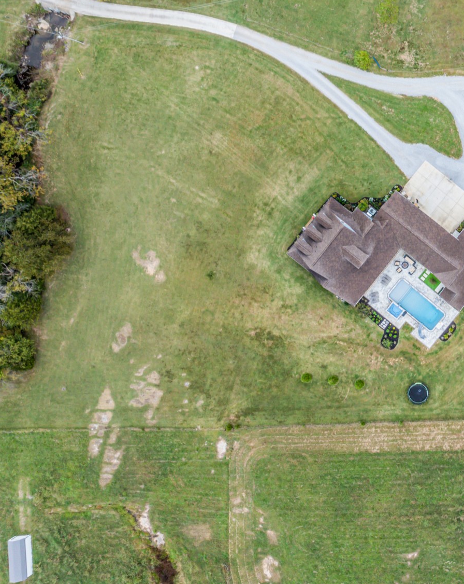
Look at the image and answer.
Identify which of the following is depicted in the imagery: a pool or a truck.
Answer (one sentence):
Visible in the photo is a pool.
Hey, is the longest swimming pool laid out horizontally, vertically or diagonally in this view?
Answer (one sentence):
In this picture, the longest swimming pool is oriented diagonally.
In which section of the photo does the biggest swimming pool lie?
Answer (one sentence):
Look in the right portion of the view to spot the biggest swimming pool.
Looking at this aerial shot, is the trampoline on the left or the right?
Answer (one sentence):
The trampoline sits on the right side.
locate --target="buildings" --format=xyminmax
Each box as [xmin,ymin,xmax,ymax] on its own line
[287,191,464,311]
[8,535,33,583]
